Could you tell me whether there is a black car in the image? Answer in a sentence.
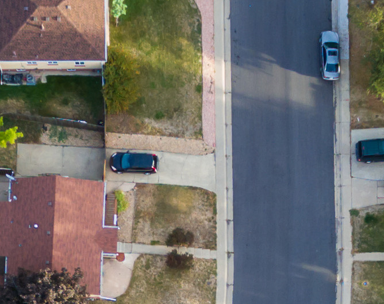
Yes, looking at the shot, I can spot a black car.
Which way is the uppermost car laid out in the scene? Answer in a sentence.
What the image shows is the uppermost car lying from top to bottom.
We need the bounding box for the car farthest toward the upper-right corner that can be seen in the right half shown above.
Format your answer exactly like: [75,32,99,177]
[319,31,342,81]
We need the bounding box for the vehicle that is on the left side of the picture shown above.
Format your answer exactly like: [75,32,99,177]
[109,149,159,175]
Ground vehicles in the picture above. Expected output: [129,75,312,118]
[355,139,384,161]
[319,31,342,81]
[109,149,159,175]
